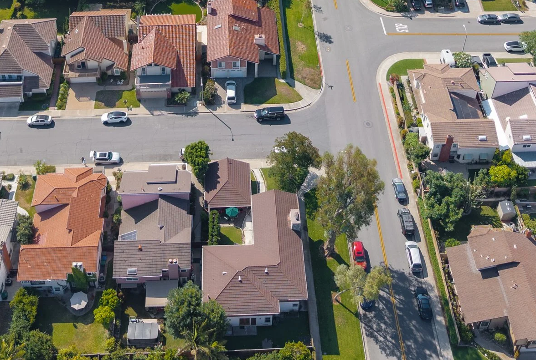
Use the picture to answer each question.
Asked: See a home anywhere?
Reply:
Yes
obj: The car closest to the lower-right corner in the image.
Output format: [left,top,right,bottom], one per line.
[414,288,431,320]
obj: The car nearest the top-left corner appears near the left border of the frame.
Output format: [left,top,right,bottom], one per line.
[26,114,53,128]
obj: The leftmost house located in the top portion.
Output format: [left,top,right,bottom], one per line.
[0,16,61,107]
